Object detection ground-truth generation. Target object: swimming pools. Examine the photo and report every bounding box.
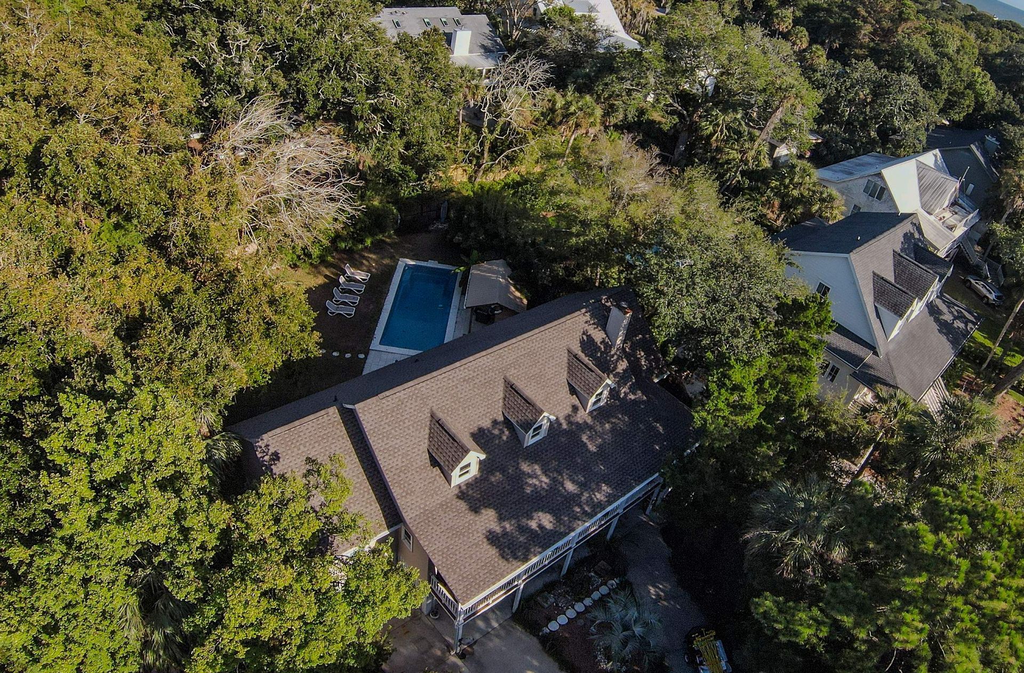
[370,258,464,354]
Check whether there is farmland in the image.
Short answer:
No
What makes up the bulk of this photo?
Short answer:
trees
